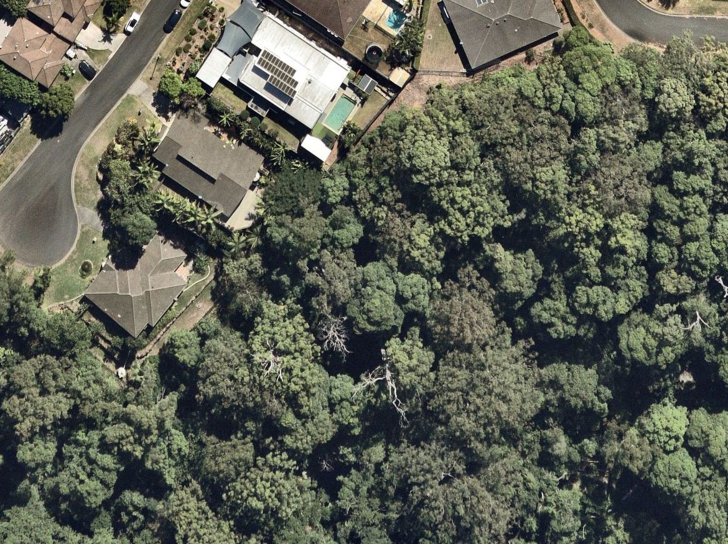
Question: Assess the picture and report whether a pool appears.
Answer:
Yes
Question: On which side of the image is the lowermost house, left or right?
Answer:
left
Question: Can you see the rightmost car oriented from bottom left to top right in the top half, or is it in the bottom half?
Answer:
top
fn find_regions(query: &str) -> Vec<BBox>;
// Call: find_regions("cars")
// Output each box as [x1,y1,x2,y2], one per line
[162,8,183,33]
[178,0,191,7]
[76,58,98,83]
[123,12,141,34]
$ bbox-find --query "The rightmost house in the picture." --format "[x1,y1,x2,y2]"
[442,0,561,70]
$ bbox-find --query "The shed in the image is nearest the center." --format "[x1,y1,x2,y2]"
[301,134,330,161]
